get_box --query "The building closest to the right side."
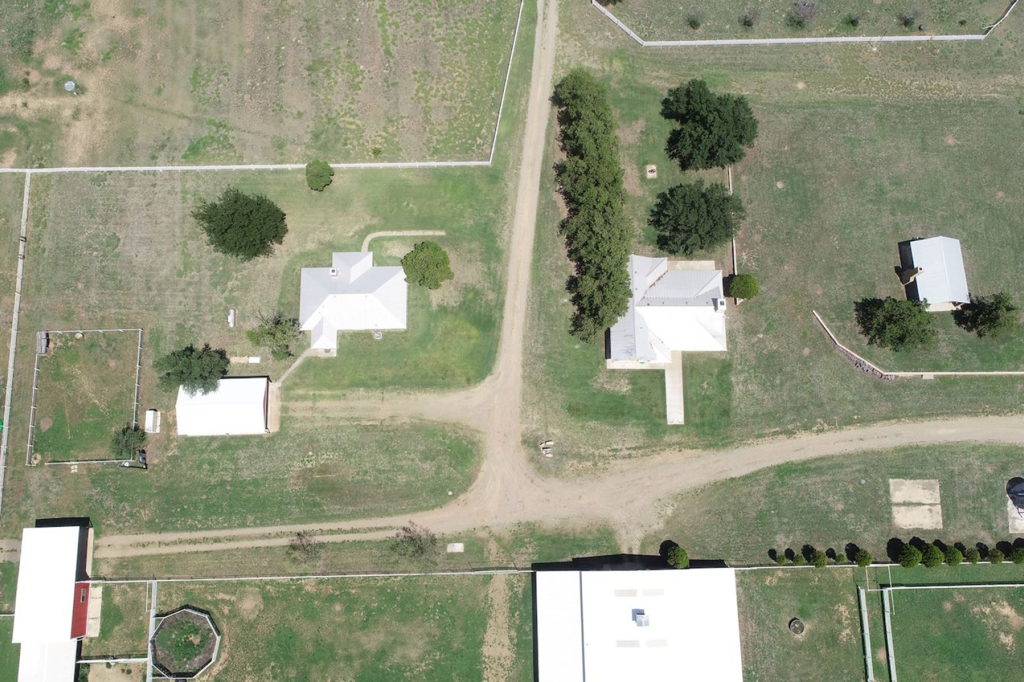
[897,236,970,311]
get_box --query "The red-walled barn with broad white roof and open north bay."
[12,526,93,682]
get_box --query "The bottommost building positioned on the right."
[535,568,742,682]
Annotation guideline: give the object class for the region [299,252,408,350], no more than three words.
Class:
house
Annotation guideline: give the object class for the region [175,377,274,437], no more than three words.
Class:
building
